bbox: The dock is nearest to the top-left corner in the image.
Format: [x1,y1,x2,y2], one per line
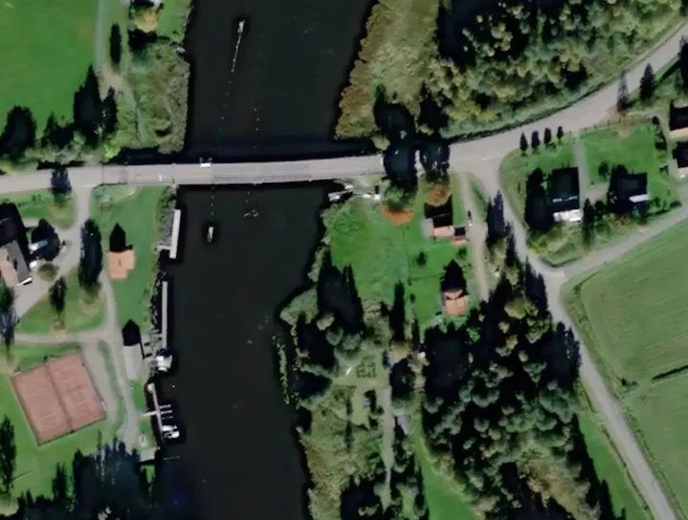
[164,210,180,258]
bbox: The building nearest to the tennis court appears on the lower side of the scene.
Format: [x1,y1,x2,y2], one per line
[118,340,146,381]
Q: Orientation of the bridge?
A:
from left to right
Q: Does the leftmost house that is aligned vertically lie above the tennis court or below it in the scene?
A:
above it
